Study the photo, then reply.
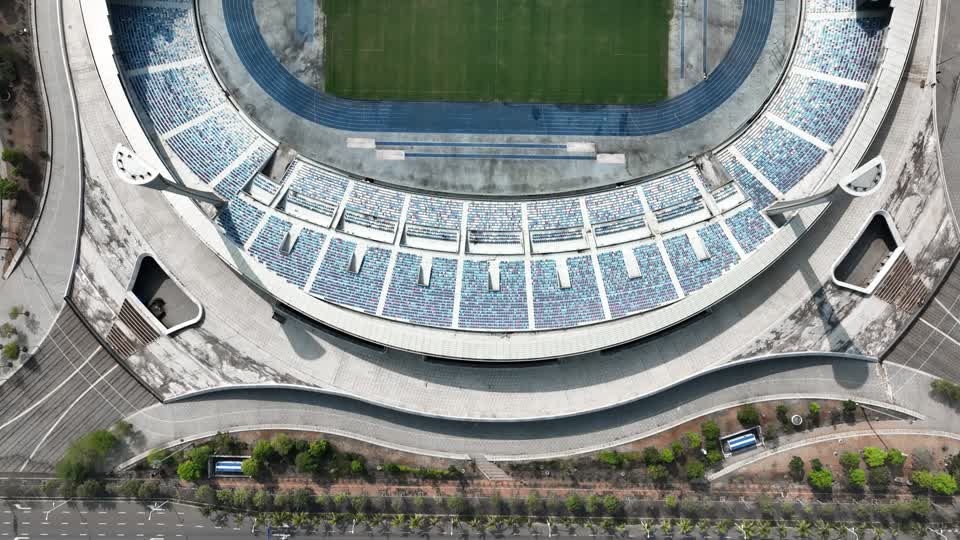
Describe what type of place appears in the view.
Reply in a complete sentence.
What you see here is a sports ground.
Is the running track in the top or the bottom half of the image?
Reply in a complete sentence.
You can find the running track in the top half.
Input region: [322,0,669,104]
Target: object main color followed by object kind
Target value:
green soccer field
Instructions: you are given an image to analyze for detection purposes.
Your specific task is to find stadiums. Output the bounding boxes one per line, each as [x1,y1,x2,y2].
[78,0,922,361]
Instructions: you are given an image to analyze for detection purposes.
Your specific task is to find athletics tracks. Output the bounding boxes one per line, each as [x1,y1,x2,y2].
[222,0,774,136]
